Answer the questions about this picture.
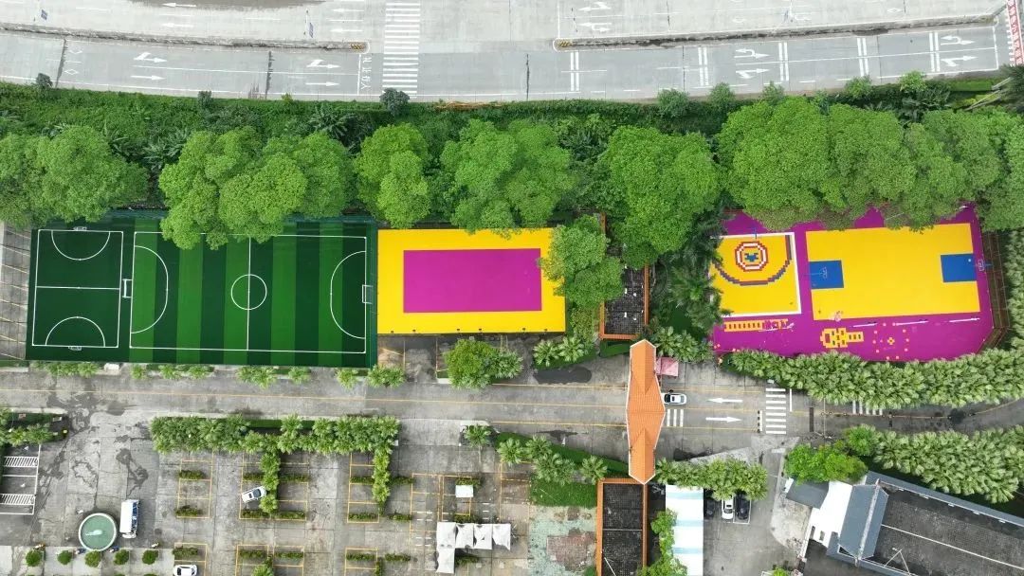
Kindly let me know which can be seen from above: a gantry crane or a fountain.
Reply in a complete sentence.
It is a fountain that can be seen here.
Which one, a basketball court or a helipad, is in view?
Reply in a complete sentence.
This aerial view contains a basketball court.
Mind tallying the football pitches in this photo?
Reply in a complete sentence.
The picture shows 2 football pitches.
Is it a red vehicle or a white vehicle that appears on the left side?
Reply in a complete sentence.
Looking on the left side, you will find a white vehicle.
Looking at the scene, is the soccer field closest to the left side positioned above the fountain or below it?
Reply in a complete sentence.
The soccer field closest to the left side appears above the fountain in the picture.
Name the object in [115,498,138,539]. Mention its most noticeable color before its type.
white vehicle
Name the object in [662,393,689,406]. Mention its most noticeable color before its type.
white vehicle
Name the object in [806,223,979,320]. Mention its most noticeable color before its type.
yellow basketball court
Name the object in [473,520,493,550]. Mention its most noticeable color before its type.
white tent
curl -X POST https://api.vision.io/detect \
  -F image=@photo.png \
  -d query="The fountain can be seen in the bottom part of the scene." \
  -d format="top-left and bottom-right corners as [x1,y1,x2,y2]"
[75,513,117,554]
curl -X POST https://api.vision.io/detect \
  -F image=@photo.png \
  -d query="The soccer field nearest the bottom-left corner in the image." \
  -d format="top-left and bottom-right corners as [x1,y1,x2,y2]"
[26,221,133,362]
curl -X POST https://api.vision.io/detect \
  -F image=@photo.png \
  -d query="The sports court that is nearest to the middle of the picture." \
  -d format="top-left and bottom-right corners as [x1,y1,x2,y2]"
[378,227,567,335]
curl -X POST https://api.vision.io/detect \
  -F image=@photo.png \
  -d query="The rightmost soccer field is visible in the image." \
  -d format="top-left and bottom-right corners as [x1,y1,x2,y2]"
[129,221,378,367]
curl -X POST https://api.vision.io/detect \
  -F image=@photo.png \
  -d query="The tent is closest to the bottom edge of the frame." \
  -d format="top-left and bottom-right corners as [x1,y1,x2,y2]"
[436,548,456,574]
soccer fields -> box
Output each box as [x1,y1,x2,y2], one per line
[129,221,378,367]
[26,221,133,362]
